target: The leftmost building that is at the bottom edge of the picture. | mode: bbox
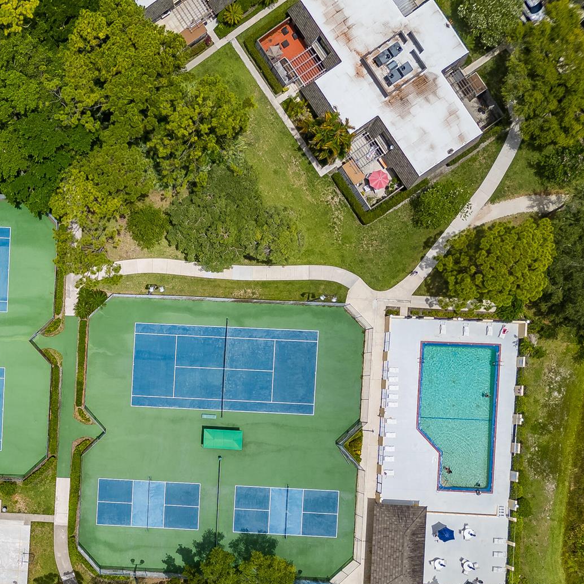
[367,498,427,584]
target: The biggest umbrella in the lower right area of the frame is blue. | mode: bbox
[435,525,452,543]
